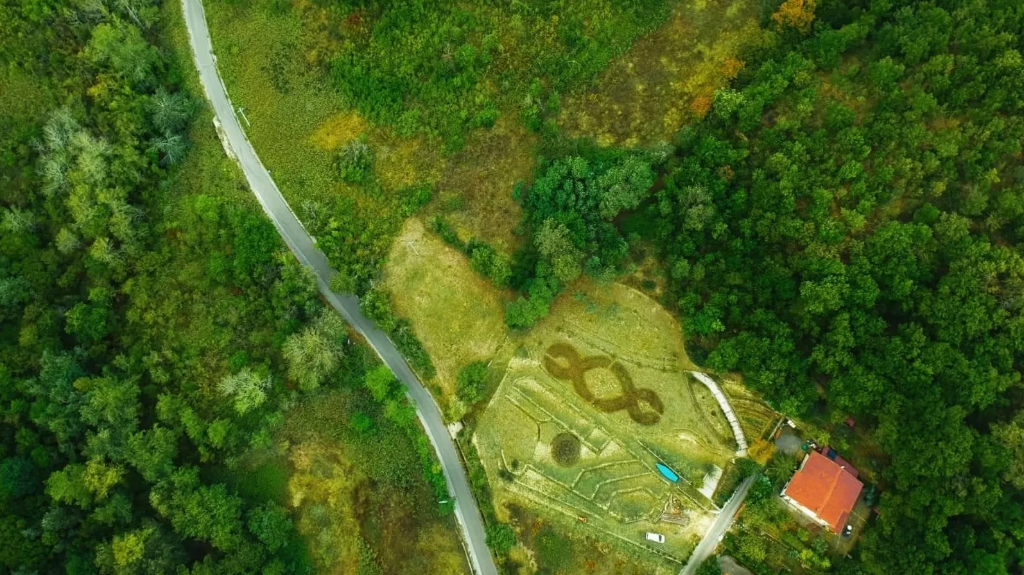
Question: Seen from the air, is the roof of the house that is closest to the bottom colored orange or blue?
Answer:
orange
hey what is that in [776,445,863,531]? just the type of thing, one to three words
house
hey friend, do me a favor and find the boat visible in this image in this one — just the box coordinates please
[656,464,678,483]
